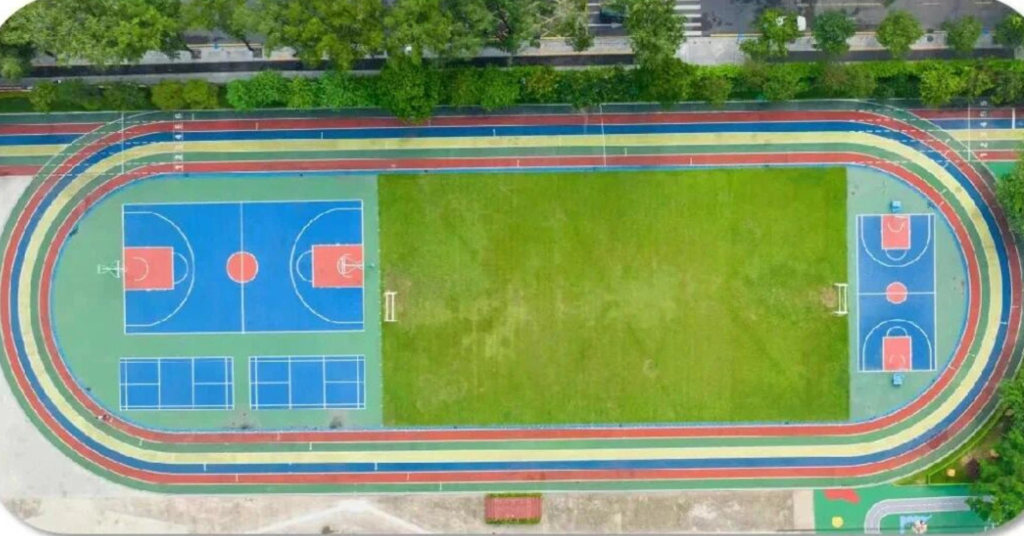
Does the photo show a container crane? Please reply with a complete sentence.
No, I can't see a single container crane in this photo.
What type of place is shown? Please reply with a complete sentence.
This looks like a sports ground.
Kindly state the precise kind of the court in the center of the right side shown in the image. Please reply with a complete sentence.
I'd say the court in the center of the right side is a basketball court.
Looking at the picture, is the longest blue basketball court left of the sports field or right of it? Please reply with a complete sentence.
Looking at the picture, you'll find the longest blue basketball court to the left of the sports field.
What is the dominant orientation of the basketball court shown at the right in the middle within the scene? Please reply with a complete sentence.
Seen from above, the basketball court shown at the right in the middle lies vertically.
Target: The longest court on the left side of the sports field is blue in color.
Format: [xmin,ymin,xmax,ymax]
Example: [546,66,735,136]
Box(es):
[122,200,365,335]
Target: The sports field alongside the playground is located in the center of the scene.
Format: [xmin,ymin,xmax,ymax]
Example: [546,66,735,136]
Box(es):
[377,167,849,424]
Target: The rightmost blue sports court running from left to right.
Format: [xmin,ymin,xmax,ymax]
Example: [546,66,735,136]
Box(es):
[249,354,366,408]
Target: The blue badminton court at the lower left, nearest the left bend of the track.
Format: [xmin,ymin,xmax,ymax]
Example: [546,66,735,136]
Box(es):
[119,356,234,410]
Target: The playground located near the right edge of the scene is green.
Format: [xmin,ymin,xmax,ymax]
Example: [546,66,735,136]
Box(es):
[813,477,1024,536]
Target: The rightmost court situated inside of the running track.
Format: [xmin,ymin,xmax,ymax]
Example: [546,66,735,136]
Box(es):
[856,213,936,372]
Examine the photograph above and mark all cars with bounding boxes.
[794,16,804,33]
[599,3,630,24]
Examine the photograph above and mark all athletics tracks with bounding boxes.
[0,98,1024,494]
